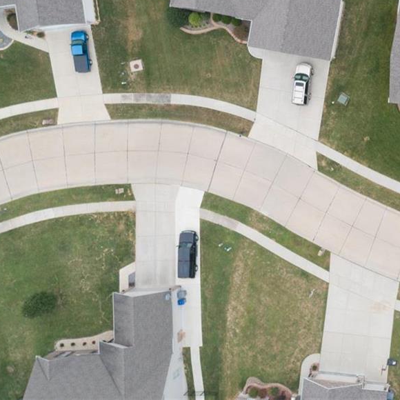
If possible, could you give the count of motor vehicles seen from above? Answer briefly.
3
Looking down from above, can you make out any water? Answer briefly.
No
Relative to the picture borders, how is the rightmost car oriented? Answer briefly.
vertically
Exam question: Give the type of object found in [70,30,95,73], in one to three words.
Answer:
truck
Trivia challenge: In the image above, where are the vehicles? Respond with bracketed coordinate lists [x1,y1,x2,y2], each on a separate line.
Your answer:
[70,30,95,73]
[177,231,199,278]
[291,64,314,107]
